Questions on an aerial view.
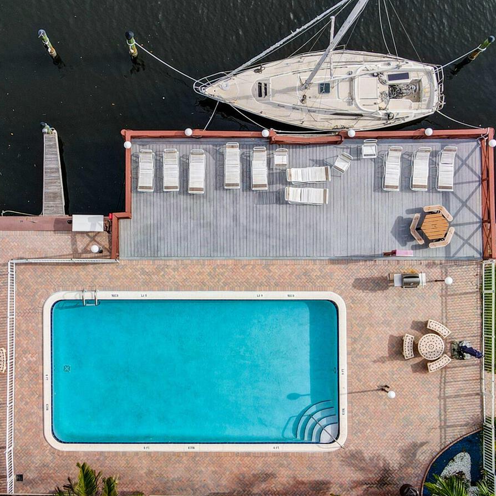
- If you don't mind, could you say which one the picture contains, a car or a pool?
pool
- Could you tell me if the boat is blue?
No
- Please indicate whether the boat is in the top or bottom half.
top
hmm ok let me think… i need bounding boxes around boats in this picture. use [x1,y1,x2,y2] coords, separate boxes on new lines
[194,0,445,131]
